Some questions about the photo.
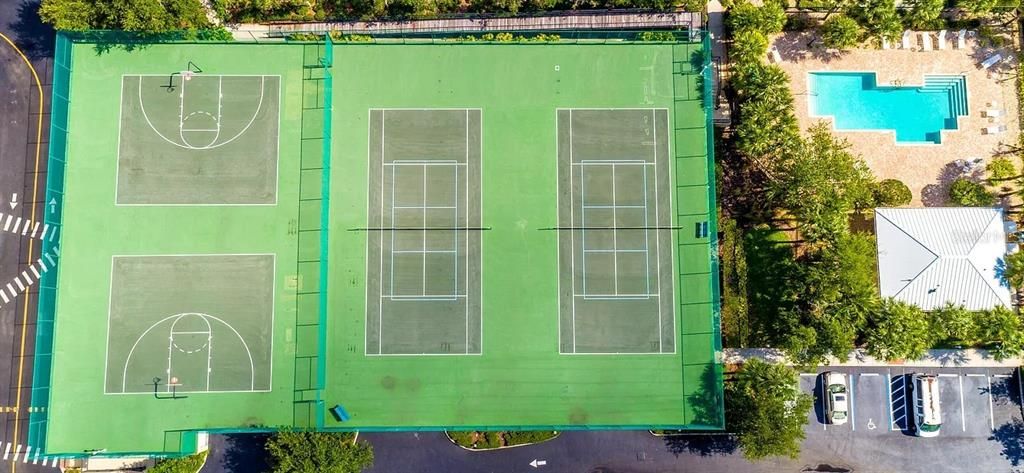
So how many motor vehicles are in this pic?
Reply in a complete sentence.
Looking from above, you can make out 2 motor vehicles.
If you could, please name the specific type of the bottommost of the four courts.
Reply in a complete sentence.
The bottommost of the four courts can be classified as a basketball court.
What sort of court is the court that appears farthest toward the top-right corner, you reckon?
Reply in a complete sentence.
In the photo, the court that appears farthest toward the top-right corner shows up as a tennis court.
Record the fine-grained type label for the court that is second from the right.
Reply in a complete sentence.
In the photo, the court that is second from the right shows up as a tennis court.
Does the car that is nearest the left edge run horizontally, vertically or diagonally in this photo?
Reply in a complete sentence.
In this picture, the car that is nearest the left edge is oriented vertically.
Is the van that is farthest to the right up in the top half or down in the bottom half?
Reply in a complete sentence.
Seen from above, the van that is farthest to the right lies in the bottom half of the view.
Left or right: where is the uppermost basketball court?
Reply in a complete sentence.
The uppermost basketball court is on the left side of the image.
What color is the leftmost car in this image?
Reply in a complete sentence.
The color of the leftmost car is white.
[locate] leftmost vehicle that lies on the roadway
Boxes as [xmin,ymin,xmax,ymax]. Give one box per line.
[822,371,849,425]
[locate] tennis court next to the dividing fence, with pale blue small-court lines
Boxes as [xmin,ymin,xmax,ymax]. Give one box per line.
[365,108,482,356]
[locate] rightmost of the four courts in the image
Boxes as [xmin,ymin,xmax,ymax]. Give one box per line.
[556,108,676,354]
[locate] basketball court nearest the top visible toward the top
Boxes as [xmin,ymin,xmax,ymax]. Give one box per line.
[115,75,281,205]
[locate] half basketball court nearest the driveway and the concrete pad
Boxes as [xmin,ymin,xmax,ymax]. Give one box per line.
[104,254,276,394]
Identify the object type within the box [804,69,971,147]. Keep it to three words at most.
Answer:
swimming pool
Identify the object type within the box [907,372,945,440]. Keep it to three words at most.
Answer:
van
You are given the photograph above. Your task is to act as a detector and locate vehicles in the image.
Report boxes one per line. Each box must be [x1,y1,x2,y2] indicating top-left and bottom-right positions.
[822,371,849,425]
[907,372,945,440]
